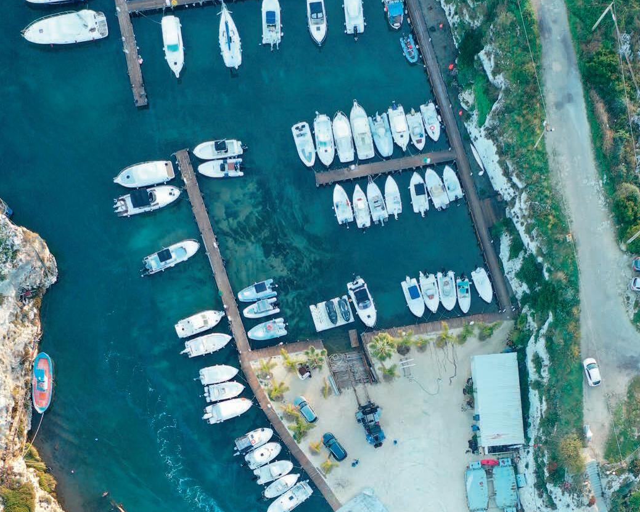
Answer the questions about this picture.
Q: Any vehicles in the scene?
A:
Yes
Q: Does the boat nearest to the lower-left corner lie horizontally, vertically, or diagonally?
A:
vertically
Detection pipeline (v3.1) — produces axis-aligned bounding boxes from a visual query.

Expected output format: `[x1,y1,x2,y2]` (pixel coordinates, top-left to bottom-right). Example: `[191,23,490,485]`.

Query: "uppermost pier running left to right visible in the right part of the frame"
[315,151,456,187]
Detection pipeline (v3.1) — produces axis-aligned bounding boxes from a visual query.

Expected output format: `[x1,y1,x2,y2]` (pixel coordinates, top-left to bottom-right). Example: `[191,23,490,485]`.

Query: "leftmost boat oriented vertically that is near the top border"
[162,8,186,75]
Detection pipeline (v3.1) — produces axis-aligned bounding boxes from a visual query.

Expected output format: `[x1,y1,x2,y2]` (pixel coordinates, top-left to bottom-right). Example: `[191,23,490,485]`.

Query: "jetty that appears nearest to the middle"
[311,297,353,332]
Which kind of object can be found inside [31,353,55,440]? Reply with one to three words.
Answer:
boat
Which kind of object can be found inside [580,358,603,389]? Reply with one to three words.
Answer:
car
